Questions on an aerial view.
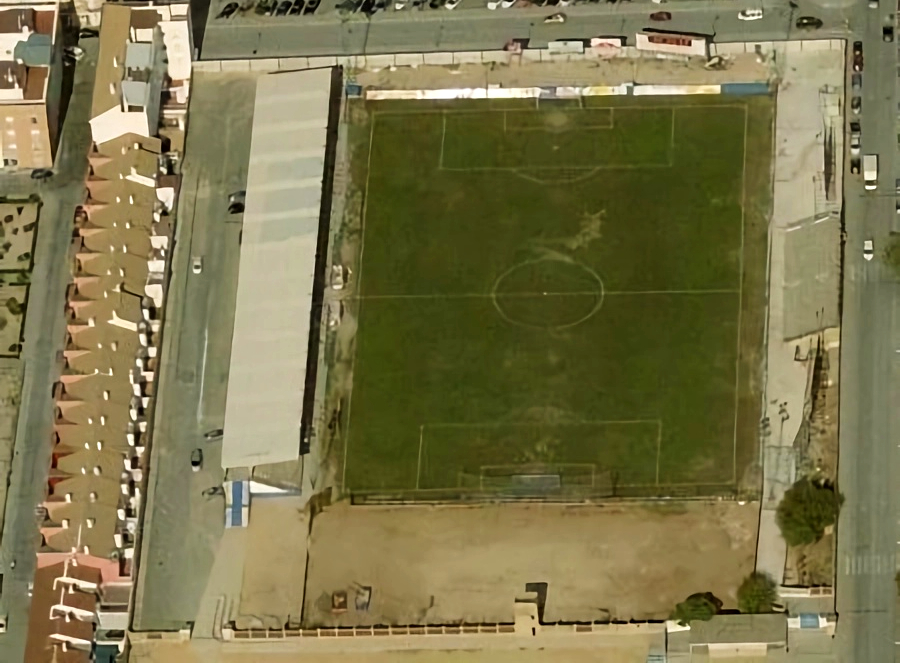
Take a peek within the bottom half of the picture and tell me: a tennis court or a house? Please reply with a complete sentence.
The feature located within the bottom half of the picture is a house.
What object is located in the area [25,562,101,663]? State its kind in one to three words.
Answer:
house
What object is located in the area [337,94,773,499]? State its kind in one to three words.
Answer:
soccer field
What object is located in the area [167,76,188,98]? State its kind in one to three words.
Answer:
shed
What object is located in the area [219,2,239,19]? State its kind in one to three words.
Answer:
car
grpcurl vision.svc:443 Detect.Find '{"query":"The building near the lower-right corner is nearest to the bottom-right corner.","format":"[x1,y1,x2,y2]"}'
[690,612,788,658]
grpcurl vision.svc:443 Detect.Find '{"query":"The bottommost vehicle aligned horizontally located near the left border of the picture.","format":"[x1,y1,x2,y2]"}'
[27,167,54,179]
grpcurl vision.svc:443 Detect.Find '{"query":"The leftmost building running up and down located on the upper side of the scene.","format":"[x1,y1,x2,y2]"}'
[0,7,64,167]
